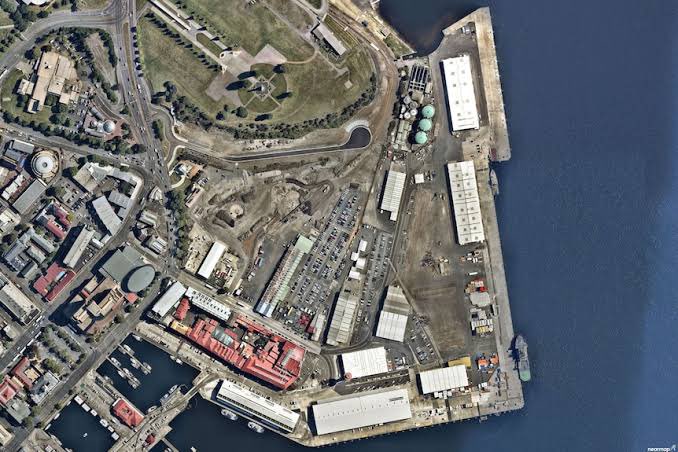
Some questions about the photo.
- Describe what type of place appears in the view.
port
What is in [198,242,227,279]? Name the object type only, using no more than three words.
shed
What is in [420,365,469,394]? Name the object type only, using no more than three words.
shed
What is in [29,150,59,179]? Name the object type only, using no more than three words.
building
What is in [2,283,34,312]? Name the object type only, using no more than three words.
building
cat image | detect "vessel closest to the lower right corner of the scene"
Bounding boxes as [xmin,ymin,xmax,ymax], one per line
[517,336,530,383]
